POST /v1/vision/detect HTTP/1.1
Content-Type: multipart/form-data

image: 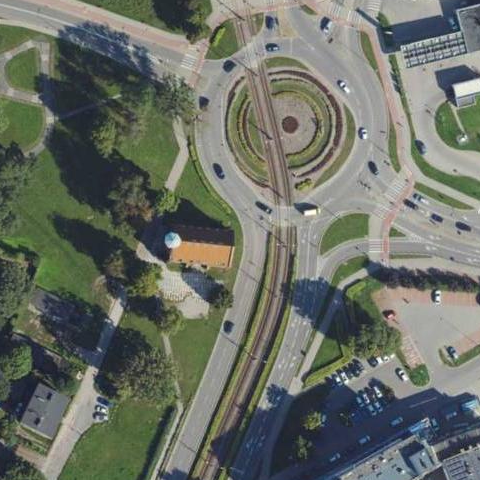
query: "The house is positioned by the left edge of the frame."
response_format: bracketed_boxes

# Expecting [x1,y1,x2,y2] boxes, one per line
[23,384,71,437]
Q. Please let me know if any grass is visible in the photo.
Yes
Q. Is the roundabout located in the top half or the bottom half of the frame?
top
